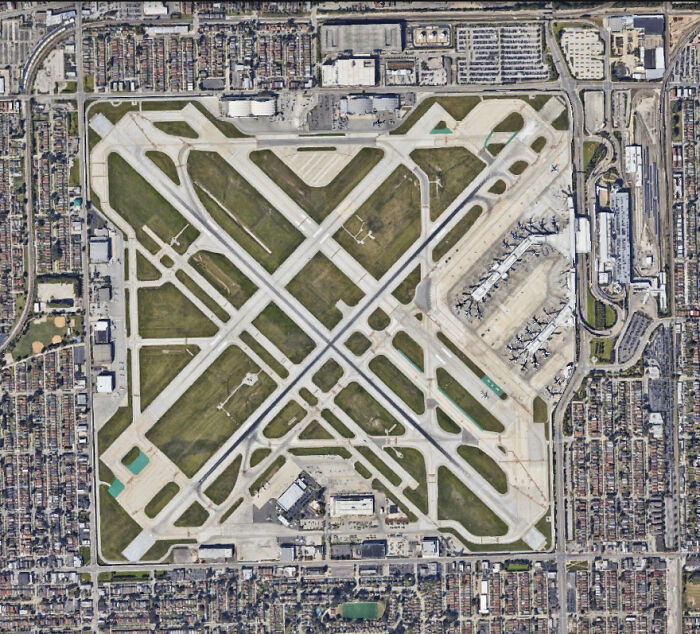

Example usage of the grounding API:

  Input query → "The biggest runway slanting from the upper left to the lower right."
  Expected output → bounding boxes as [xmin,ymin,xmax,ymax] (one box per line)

[123,141,532,542]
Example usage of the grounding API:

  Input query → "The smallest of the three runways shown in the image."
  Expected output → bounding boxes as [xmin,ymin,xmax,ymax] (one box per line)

[228,146,405,321]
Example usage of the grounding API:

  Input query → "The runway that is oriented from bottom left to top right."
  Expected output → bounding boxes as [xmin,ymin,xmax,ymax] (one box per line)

[126,153,396,440]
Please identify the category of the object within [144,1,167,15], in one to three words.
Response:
building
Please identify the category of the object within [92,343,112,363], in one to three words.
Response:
hangar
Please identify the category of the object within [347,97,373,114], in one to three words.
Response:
hangar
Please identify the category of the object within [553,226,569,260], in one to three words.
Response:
building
